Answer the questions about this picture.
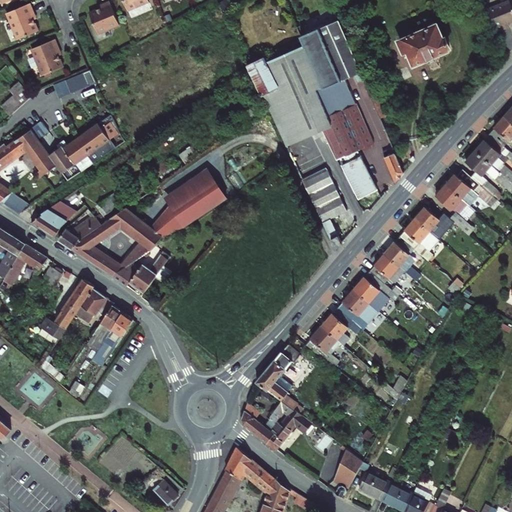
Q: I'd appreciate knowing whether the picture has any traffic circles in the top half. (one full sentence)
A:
No, in the top half there is no traffic circle.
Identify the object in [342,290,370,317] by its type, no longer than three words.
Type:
house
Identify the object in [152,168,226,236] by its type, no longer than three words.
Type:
hangar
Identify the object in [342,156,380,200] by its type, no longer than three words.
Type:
building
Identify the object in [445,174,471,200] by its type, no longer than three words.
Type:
house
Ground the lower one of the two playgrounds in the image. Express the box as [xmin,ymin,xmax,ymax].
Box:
[70,426,106,460]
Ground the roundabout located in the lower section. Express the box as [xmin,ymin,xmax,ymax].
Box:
[174,376,240,442]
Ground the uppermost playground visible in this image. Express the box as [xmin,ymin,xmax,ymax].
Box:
[12,364,62,415]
